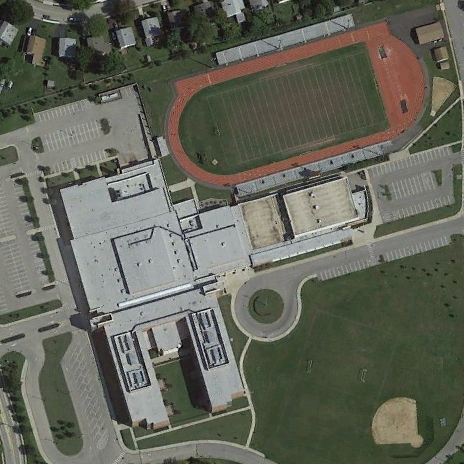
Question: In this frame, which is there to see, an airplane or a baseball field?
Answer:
baseball field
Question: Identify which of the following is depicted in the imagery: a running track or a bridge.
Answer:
running track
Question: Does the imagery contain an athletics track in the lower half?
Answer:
No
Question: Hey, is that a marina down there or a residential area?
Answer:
residential area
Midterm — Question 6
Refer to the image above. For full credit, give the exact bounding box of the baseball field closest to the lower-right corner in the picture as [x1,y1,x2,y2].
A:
[372,397,424,448]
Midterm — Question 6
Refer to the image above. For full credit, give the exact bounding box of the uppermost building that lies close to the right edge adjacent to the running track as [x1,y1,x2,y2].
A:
[415,25,444,44]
